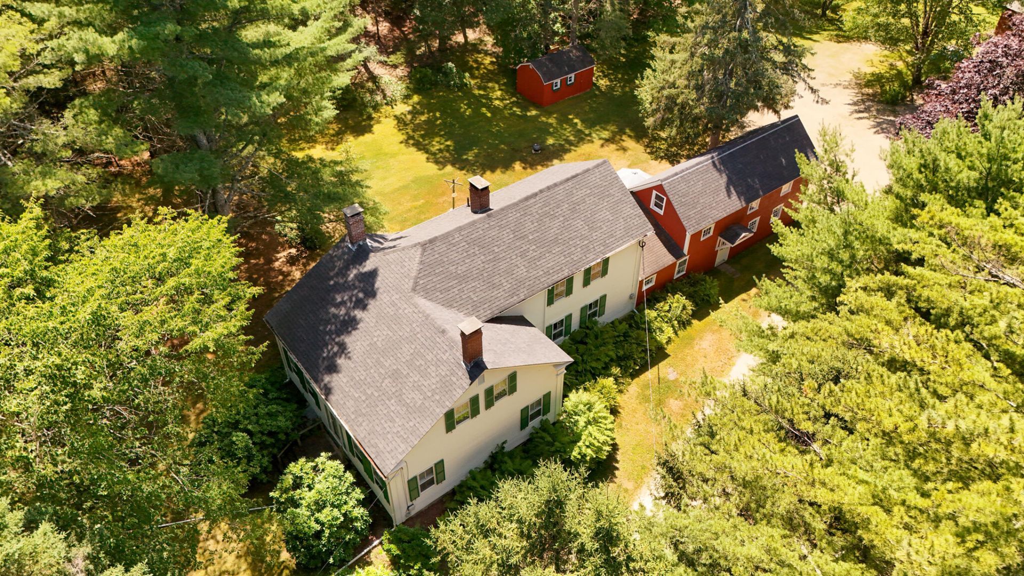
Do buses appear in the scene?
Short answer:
No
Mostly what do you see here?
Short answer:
trees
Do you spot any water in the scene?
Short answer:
No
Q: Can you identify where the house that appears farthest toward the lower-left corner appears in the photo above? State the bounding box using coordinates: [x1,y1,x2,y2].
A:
[262,159,656,537]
